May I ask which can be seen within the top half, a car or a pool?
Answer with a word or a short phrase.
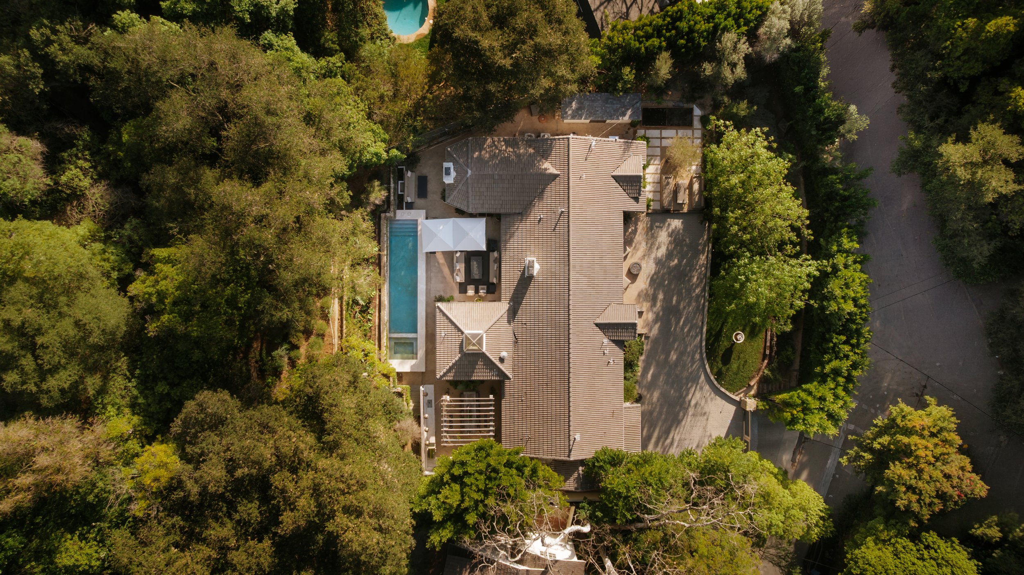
pool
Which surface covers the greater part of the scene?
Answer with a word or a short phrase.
trees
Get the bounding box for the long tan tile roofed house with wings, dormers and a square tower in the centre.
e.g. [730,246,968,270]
[435,135,648,492]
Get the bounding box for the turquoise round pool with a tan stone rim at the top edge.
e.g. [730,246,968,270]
[376,0,435,43]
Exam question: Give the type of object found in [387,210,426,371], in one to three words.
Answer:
swimming pool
